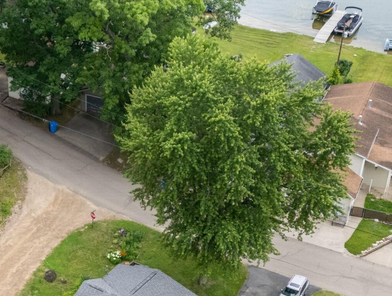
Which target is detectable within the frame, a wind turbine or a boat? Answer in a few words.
boat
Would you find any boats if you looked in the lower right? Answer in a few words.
No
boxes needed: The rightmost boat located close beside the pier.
[335,5,364,34]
